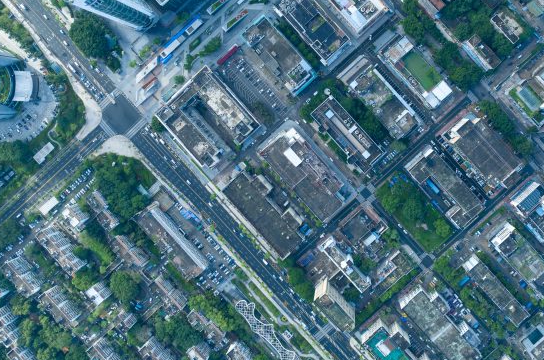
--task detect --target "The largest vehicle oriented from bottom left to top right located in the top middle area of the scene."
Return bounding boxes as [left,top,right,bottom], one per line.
[218,46,238,64]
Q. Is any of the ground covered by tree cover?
Yes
